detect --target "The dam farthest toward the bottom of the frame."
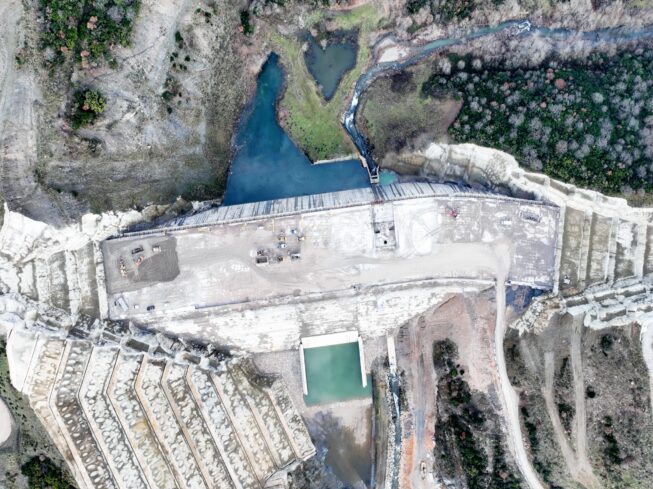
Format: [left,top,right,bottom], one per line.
[103,182,560,354]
